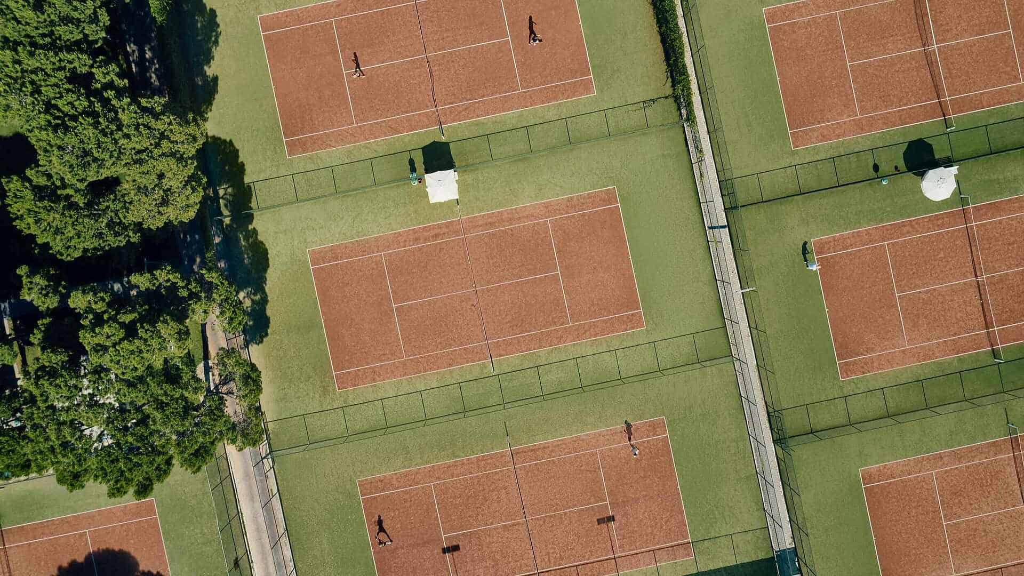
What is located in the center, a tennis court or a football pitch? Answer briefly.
tennis court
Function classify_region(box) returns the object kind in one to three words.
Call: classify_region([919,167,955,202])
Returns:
umbrella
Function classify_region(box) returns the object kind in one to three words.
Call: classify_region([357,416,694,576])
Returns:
tennis court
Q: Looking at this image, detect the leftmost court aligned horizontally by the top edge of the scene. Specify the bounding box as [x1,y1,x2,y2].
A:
[258,0,595,158]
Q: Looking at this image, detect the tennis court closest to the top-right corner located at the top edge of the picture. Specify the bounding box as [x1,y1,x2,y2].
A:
[764,0,1024,150]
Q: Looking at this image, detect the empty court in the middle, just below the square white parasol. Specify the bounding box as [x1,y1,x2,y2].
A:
[308,186,645,391]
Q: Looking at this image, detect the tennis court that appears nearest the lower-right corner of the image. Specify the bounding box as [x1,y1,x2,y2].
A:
[859,435,1024,576]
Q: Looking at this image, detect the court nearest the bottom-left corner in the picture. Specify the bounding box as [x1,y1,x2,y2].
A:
[0,498,169,576]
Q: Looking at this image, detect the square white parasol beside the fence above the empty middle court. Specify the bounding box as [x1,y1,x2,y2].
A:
[426,171,459,204]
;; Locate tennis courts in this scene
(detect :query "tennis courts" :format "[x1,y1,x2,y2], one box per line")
[357,416,694,576]
[859,435,1024,576]
[258,0,595,158]
[812,196,1024,381]
[308,186,645,391]
[764,0,1024,150]
[0,498,169,576]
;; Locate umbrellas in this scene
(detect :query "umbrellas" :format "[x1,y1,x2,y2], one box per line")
[426,171,459,204]
[919,167,955,202]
